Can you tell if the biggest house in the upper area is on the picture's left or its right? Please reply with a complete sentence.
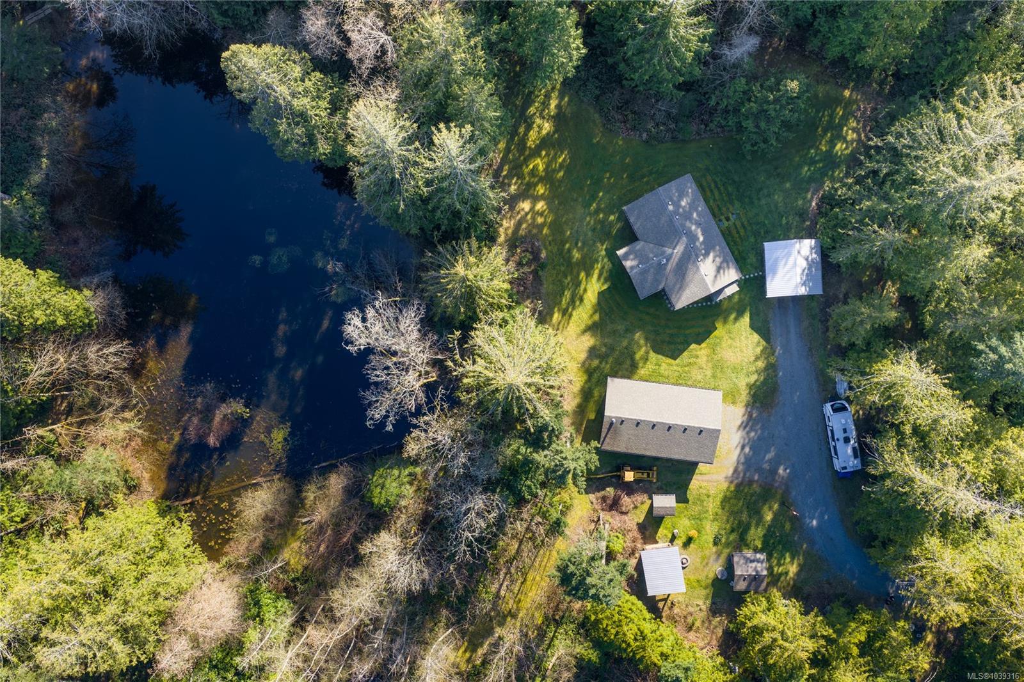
The biggest house in the upper area is on the right side of the image.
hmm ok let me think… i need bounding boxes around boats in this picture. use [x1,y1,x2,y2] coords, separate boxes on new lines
[835,373,848,399]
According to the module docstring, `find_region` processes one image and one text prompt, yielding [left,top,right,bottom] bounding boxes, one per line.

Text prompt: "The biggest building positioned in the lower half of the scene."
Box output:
[599,375,723,464]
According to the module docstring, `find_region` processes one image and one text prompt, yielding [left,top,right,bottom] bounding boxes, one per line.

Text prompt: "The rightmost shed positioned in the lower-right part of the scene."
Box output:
[730,549,769,591]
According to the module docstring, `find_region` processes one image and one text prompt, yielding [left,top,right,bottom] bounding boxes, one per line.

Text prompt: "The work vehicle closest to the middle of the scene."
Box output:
[592,461,660,484]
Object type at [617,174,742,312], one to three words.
house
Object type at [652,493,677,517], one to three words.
shed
